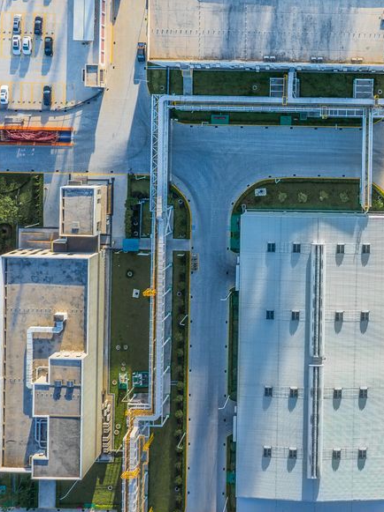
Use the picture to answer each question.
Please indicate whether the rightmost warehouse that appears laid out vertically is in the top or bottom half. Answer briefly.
bottom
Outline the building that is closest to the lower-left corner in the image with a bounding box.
[0,251,103,480]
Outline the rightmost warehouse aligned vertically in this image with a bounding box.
[237,209,384,506]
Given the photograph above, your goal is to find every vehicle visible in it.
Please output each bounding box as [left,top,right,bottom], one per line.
[43,86,52,106]
[137,41,146,62]
[11,35,22,55]
[33,17,44,36]
[44,36,54,56]
[0,85,9,105]
[22,36,32,56]
[12,15,23,34]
